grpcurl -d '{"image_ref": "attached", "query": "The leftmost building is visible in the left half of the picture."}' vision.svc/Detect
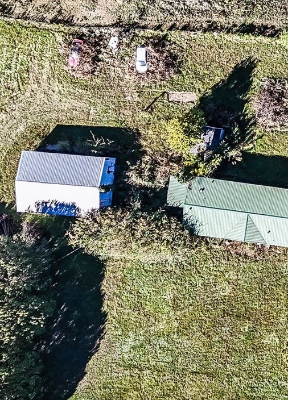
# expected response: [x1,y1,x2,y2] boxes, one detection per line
[10,151,117,215]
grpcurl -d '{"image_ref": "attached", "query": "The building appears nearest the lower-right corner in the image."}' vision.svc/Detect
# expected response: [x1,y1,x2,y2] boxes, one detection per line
[166,175,288,245]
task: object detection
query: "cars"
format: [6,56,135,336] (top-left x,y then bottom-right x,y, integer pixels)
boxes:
[134,45,149,74]
[67,39,83,67]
